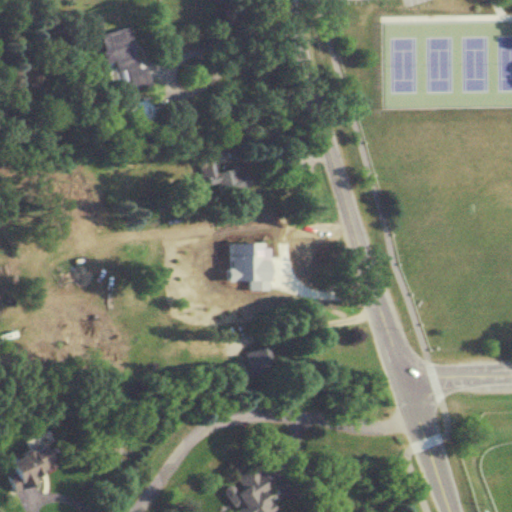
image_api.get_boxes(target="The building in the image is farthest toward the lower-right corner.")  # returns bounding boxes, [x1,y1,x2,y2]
[235,470,280,512]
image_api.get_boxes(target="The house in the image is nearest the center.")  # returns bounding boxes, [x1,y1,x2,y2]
[229,242,276,293]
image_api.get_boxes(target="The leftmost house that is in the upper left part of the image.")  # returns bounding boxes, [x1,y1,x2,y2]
[102,26,156,90]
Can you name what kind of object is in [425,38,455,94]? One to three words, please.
tennis court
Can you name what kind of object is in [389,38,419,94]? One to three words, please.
tennis court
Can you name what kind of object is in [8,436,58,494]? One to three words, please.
house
